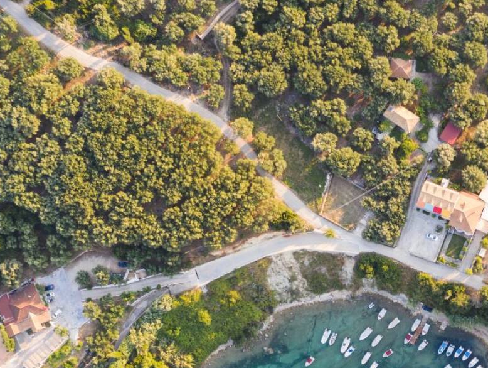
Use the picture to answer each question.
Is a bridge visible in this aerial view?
No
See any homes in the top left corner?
No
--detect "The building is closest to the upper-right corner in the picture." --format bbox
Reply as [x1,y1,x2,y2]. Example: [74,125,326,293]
[389,59,415,81]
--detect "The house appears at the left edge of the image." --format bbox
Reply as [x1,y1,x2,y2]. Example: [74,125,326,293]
[0,282,66,368]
